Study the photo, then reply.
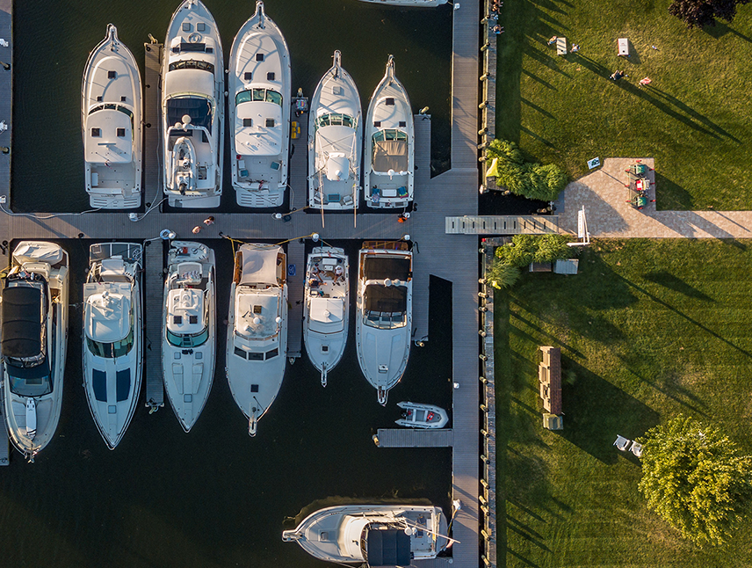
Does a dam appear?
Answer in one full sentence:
No, the photo shows no dam.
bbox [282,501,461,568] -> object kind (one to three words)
boat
